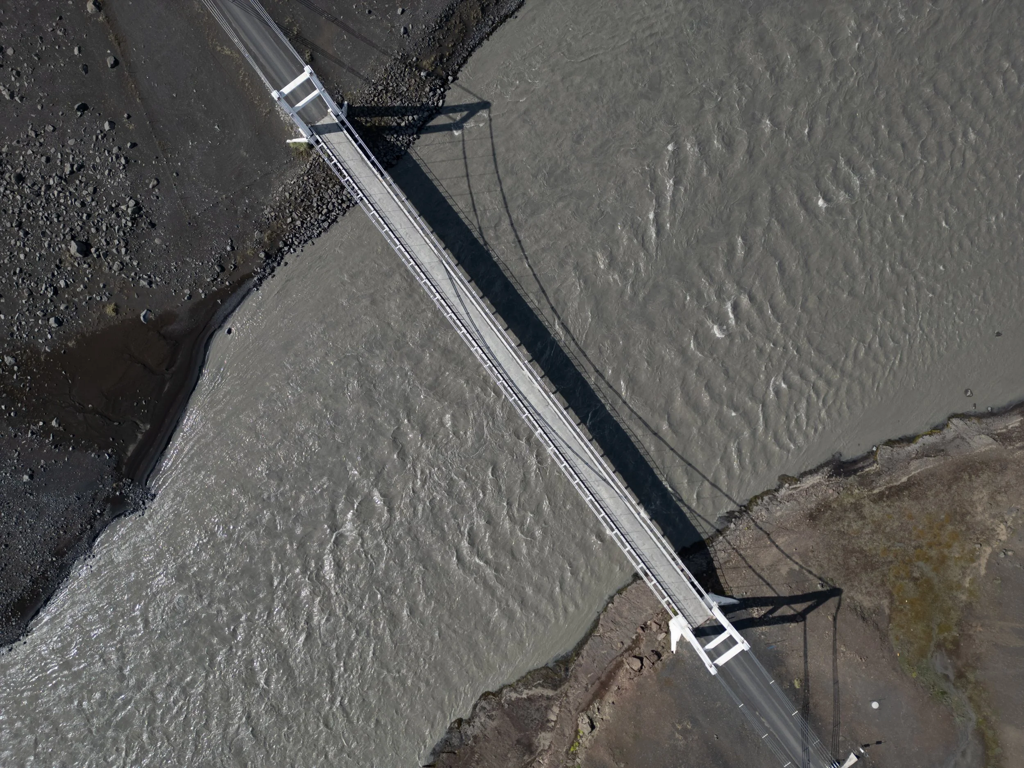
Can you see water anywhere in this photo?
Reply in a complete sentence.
Yes, water can be seen from above here.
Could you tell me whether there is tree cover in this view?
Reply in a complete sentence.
No, there's no tree cover in this view.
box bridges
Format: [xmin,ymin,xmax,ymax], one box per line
[201,0,844,768]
